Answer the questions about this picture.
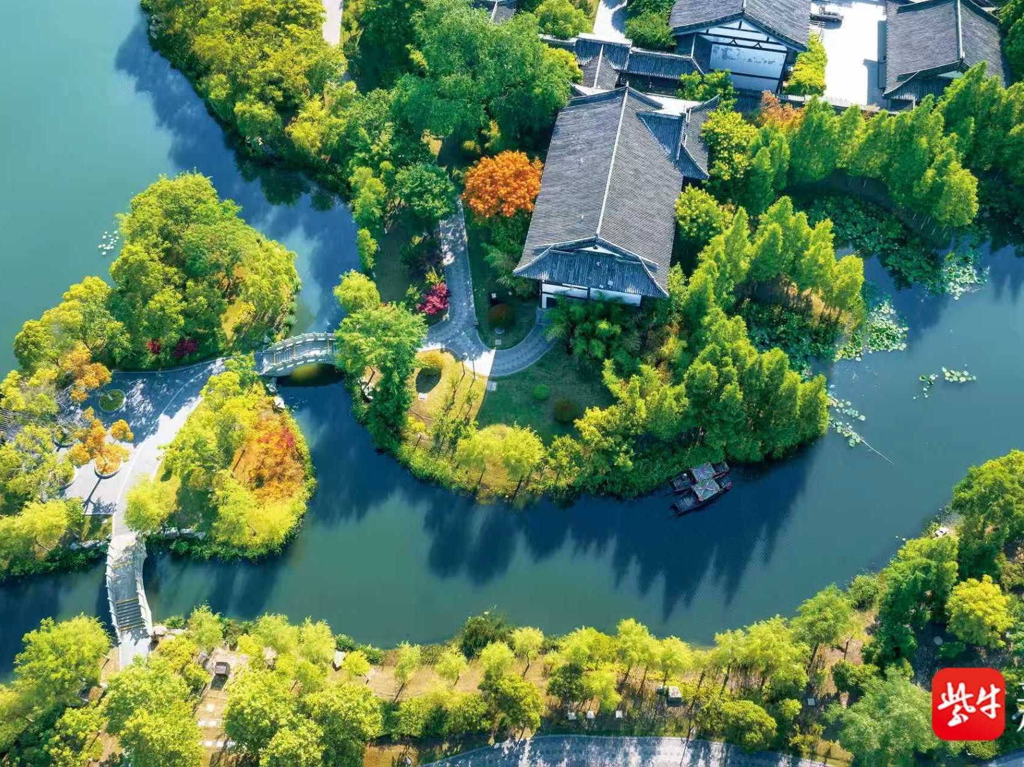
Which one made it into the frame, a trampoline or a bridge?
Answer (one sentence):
I can see a bridge in this picture.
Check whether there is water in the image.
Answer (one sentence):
Yes, there's water in this view.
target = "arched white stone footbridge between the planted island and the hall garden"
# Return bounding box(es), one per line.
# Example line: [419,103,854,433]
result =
[251,334,389,381]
